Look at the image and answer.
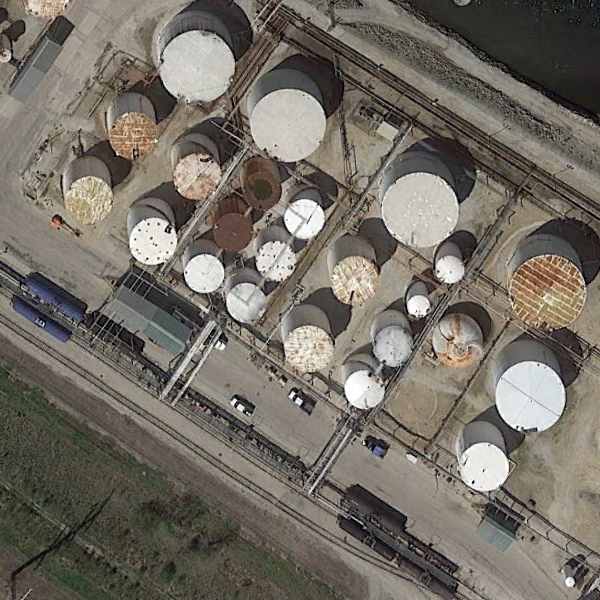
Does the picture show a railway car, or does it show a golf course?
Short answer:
railway car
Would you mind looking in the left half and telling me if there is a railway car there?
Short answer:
Yes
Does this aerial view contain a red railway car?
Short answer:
No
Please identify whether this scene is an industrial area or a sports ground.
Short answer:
industrial area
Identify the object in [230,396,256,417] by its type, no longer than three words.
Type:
truck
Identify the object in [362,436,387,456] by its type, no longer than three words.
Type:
vehicle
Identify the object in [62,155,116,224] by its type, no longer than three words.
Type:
storage tank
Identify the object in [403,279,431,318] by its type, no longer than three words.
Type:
storage tank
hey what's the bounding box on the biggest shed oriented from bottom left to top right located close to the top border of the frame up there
[10,29,62,102]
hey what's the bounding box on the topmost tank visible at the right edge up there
[502,231,587,330]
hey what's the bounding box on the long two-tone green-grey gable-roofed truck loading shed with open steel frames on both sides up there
[92,264,195,358]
